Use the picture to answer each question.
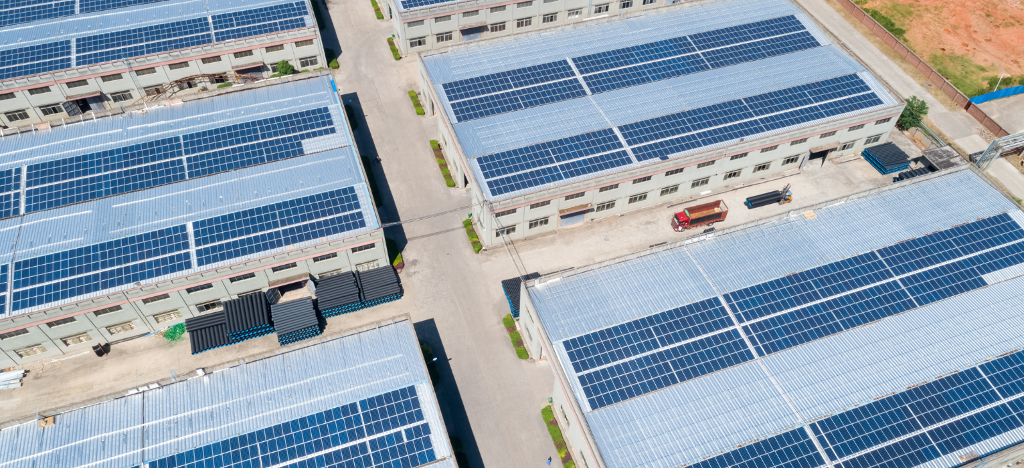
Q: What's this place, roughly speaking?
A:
industrial area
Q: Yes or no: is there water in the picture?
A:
No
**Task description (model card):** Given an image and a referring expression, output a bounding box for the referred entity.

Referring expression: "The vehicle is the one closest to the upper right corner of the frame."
[778,185,794,205]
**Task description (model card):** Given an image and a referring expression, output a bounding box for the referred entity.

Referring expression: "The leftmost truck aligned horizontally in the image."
[670,201,729,230]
